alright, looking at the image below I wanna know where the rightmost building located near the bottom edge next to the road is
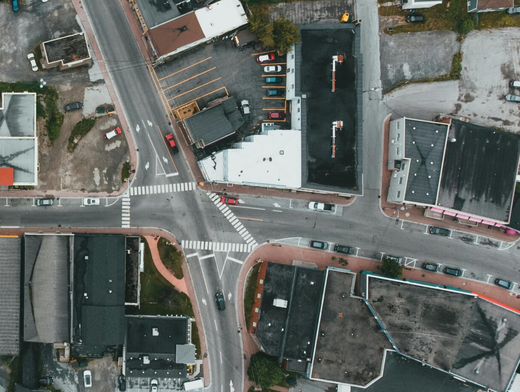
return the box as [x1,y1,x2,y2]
[352,270,520,392]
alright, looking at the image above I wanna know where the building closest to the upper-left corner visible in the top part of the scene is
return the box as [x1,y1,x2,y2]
[39,33,91,70]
